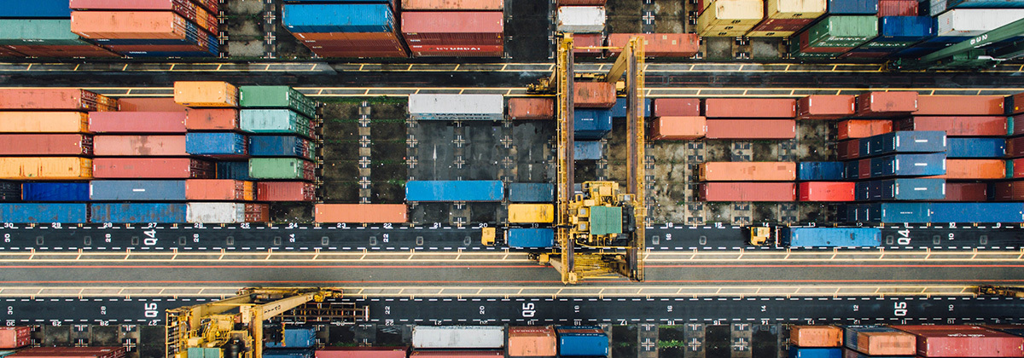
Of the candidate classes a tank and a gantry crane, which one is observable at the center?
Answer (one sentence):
You can see a gantry crane at the center.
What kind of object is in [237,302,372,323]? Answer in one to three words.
truck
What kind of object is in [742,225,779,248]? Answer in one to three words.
truck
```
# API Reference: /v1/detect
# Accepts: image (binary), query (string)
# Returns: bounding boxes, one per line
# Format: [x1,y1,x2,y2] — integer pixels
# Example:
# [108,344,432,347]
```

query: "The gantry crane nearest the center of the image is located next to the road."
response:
[528,32,649,286]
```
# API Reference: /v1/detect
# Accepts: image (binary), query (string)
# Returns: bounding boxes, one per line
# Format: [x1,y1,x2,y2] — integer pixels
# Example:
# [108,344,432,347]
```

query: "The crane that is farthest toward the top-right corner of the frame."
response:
[887,9,1024,71]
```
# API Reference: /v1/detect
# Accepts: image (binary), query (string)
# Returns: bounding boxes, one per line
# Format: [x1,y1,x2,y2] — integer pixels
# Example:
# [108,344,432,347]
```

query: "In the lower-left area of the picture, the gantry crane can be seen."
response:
[163,284,338,358]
